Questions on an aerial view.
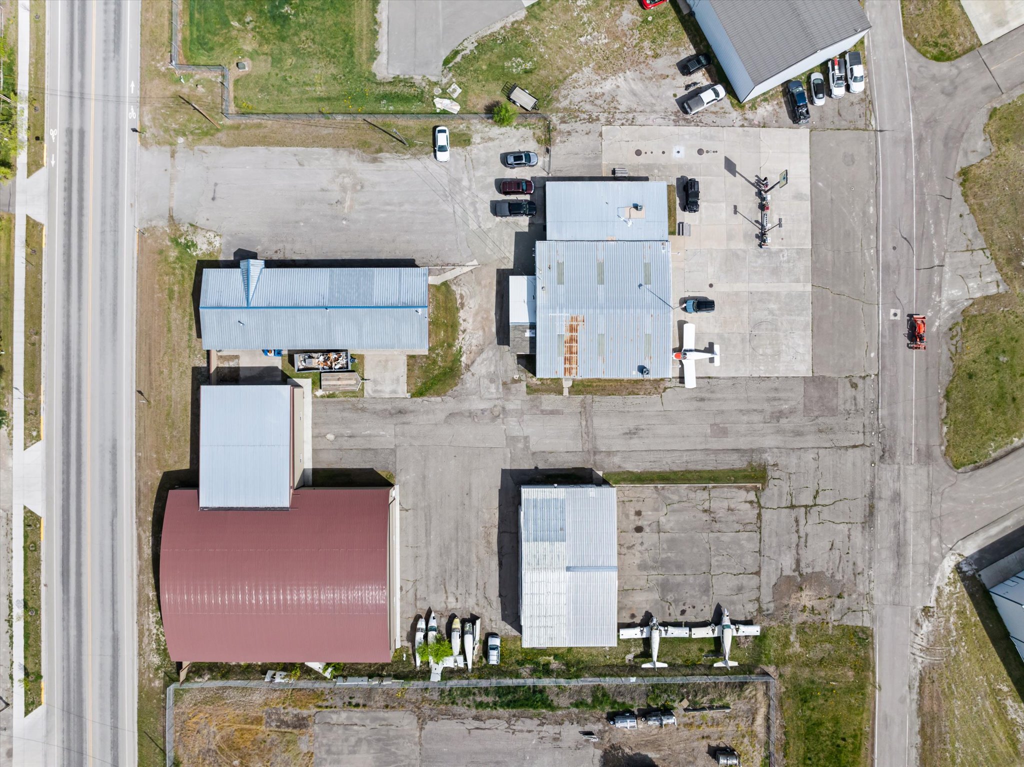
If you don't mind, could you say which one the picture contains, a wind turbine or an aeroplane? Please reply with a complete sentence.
There is an aeroplane in the scene.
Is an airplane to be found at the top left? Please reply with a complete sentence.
No, no airplane is visible at the top left.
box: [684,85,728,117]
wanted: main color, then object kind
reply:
white truck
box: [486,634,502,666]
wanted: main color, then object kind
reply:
white car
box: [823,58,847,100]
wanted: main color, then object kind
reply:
white truck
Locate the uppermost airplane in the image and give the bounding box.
[674,323,725,389]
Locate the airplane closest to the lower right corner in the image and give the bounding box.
[692,608,760,673]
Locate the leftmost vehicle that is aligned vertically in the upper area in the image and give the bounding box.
[434,127,450,163]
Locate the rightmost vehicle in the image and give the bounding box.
[914,317,931,348]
